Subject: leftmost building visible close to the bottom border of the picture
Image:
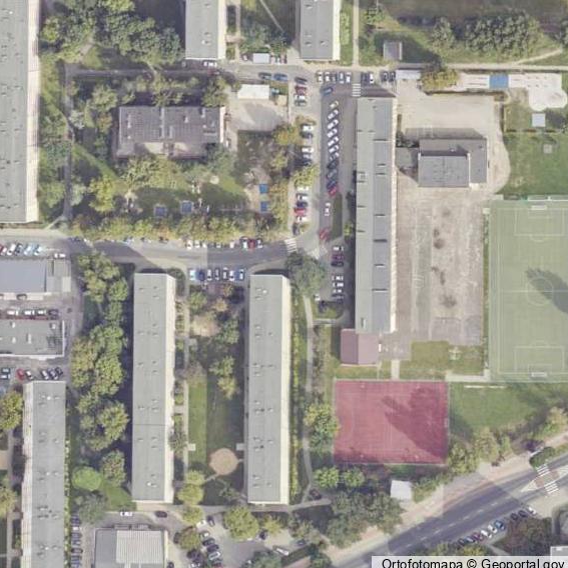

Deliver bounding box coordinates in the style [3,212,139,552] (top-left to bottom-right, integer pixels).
[22,381,66,568]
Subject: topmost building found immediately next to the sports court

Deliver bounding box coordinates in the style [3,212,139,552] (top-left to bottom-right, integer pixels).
[356,96,395,333]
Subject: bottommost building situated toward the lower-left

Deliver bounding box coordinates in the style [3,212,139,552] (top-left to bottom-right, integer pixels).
[95,523,167,568]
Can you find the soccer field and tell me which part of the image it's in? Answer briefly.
right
